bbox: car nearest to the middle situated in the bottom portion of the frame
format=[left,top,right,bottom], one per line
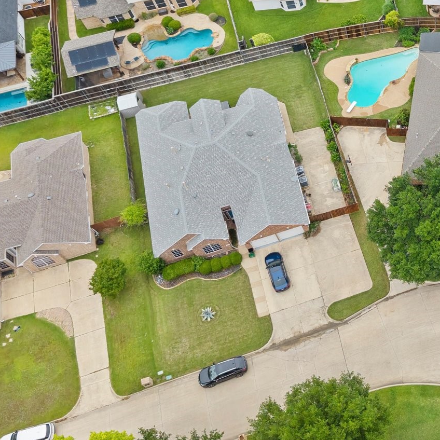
[264,250,293,296]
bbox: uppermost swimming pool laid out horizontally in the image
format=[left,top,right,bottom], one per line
[139,26,216,61]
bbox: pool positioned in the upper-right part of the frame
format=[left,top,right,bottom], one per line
[346,46,419,109]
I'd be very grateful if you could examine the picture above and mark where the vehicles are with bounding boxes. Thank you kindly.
[197,353,253,390]
[264,250,293,296]
[1,419,59,440]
